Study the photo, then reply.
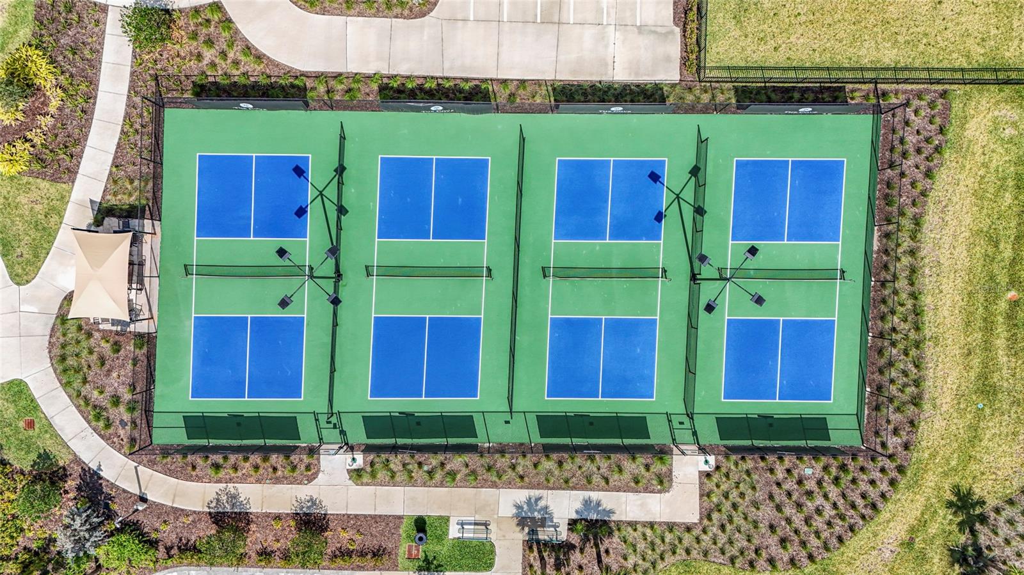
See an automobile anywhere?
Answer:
No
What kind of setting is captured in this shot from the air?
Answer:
sports ground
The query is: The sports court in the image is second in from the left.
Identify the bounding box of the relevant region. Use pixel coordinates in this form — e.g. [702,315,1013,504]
[331,111,525,444]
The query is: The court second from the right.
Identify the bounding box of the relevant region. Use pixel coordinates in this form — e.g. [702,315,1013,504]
[510,113,703,445]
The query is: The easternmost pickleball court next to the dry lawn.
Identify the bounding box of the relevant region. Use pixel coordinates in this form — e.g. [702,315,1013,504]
[687,114,882,446]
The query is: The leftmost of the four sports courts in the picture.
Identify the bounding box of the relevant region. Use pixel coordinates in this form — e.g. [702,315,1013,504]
[153,108,344,444]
